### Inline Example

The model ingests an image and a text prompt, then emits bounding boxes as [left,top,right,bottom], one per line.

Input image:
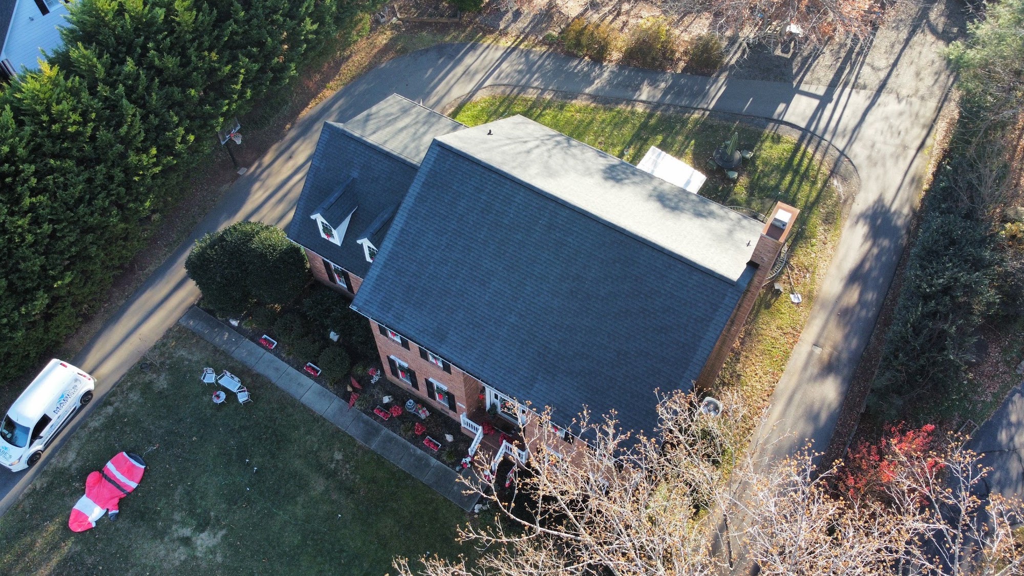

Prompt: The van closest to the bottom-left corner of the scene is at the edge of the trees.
[0,348,102,471]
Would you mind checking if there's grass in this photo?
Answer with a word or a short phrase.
Yes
